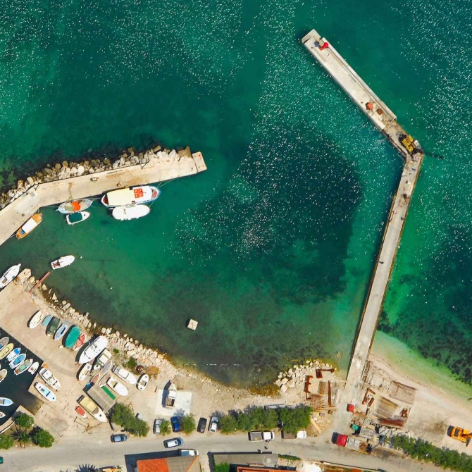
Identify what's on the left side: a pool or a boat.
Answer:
boat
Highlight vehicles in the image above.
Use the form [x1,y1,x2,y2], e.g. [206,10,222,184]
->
[109,434,128,442]
[196,416,207,435]
[0,457,5,464]
[178,448,199,458]
[152,415,162,437]
[451,426,472,448]
[283,430,307,439]
[209,415,219,434]
[170,415,180,434]
[337,424,381,450]
[162,438,184,449]
[248,432,273,441]
[132,411,152,428]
